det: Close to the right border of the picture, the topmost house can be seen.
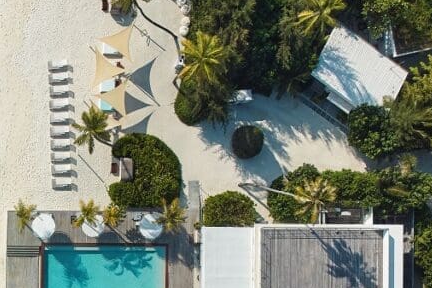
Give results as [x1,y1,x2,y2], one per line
[285,27,413,135]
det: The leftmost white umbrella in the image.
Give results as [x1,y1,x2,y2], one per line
[31,214,56,239]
